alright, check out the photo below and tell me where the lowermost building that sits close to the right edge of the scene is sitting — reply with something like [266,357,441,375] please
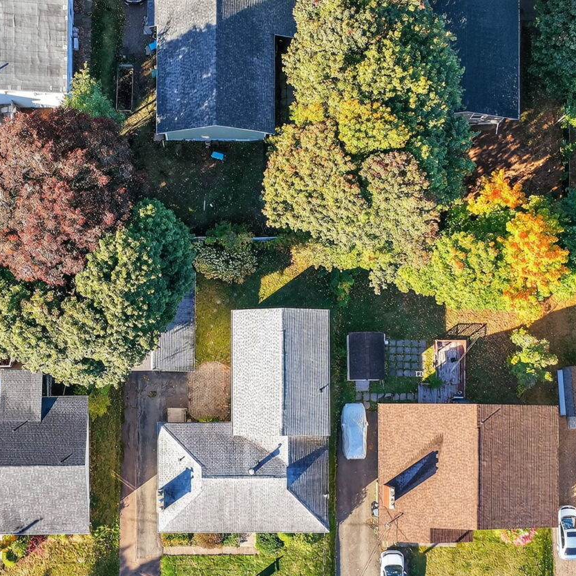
[371,404,559,546]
